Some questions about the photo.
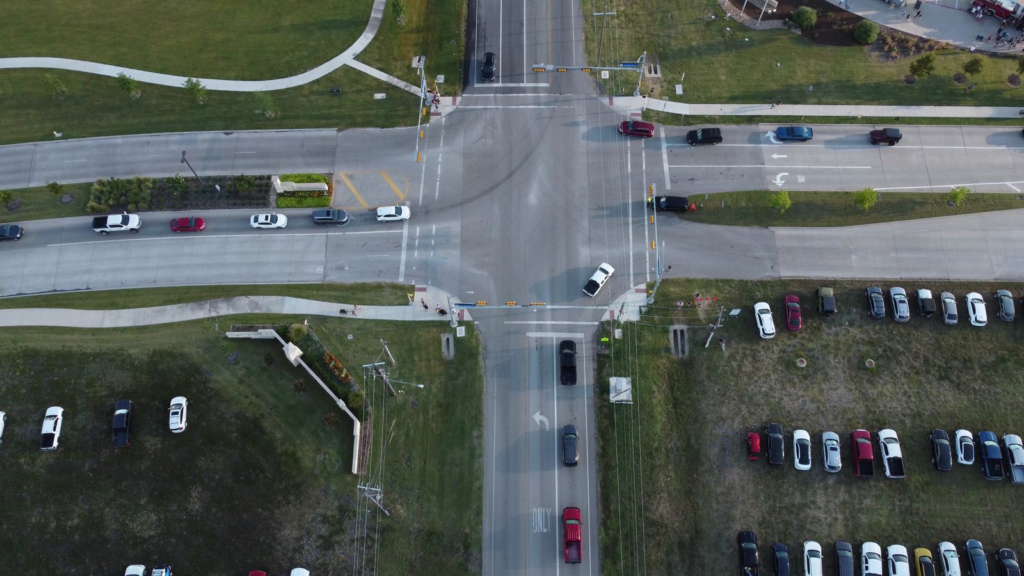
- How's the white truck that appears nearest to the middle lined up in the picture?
on a diagonal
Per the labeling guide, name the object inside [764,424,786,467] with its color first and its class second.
black car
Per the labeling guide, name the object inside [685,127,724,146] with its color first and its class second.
black car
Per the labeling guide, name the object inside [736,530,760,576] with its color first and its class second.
black truck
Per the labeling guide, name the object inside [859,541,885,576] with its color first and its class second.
white truck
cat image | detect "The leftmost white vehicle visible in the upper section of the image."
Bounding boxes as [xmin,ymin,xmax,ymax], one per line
[89,213,143,234]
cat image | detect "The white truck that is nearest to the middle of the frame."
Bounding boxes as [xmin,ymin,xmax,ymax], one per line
[581,261,615,299]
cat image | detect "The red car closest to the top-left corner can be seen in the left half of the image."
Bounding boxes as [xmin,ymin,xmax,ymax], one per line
[169,216,207,234]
